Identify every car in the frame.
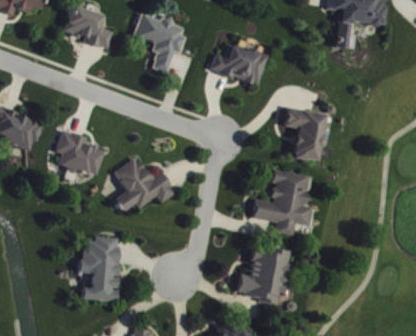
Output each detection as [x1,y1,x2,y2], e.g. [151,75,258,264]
[219,79,224,90]
[74,120,79,130]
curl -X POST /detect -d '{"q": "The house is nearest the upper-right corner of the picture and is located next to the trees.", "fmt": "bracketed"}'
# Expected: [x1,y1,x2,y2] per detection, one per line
[322,0,390,48]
